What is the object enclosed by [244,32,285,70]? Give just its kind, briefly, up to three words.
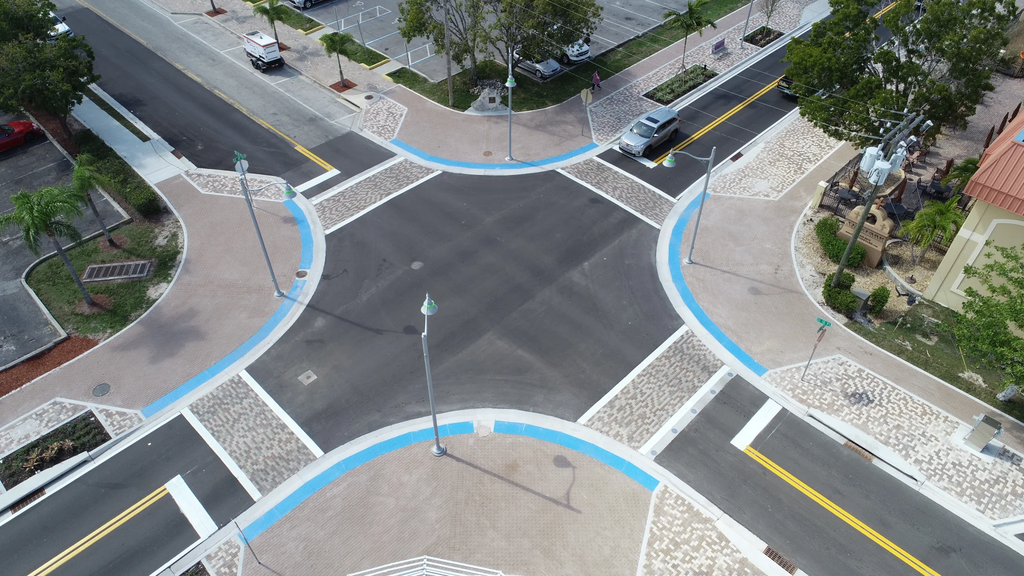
trailer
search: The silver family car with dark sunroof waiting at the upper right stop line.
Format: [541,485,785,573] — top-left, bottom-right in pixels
[618,106,683,159]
